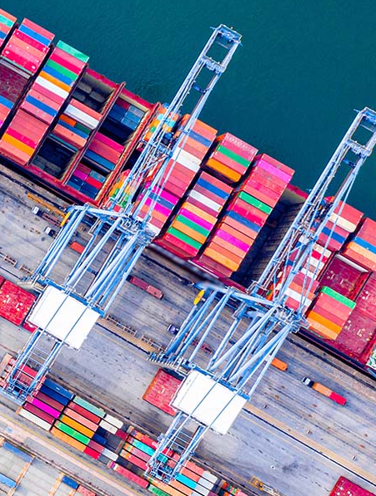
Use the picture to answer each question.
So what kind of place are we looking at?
port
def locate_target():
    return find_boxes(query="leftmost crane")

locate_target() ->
[0,21,245,416]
